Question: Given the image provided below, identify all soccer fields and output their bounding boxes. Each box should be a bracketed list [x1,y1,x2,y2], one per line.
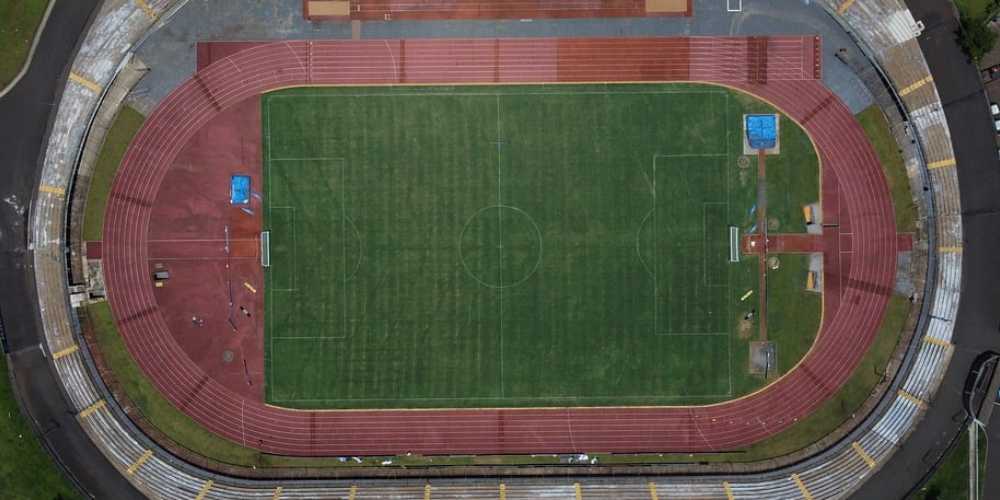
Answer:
[262,82,823,409]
